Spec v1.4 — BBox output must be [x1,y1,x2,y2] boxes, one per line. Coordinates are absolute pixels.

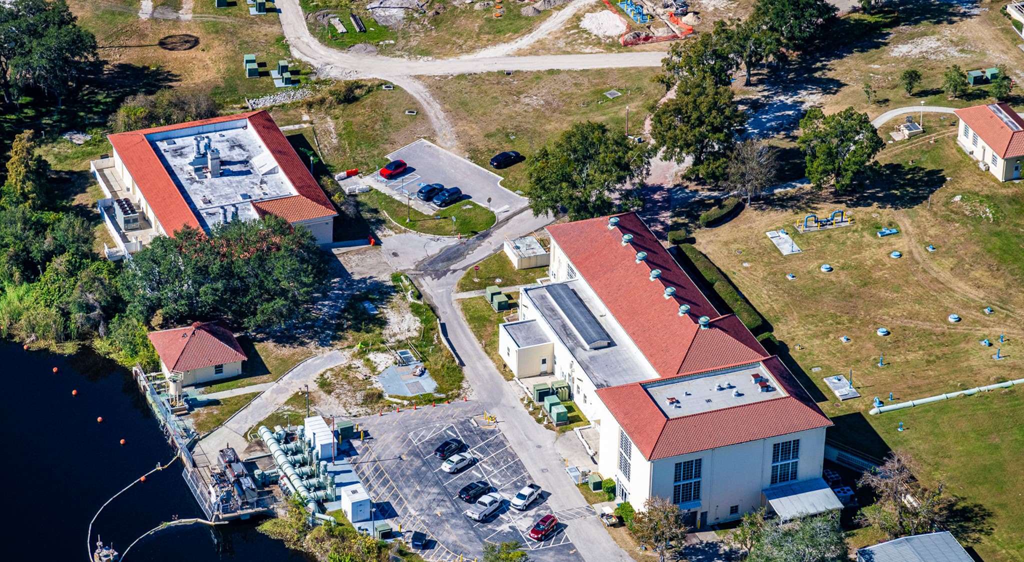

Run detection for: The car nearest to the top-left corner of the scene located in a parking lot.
[379,158,409,178]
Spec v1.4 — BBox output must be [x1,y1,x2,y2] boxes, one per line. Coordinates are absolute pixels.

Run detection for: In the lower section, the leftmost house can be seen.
[147,321,247,384]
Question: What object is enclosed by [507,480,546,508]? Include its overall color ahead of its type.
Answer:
white truck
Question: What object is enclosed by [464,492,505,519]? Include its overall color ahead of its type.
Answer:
white truck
